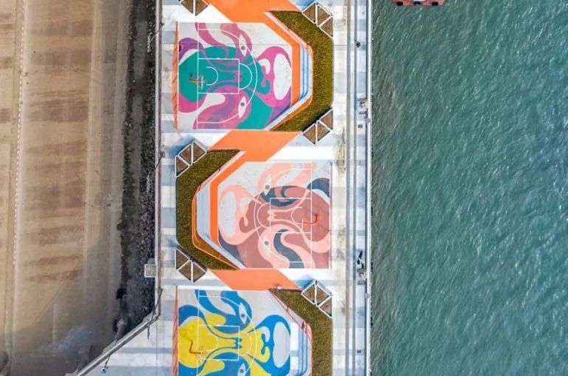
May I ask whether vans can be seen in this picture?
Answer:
No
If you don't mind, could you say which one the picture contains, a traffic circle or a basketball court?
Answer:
basketball court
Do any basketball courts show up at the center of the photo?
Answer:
Yes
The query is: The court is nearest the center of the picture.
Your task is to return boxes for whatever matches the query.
[218,160,330,269]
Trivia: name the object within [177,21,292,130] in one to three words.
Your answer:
basketball court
